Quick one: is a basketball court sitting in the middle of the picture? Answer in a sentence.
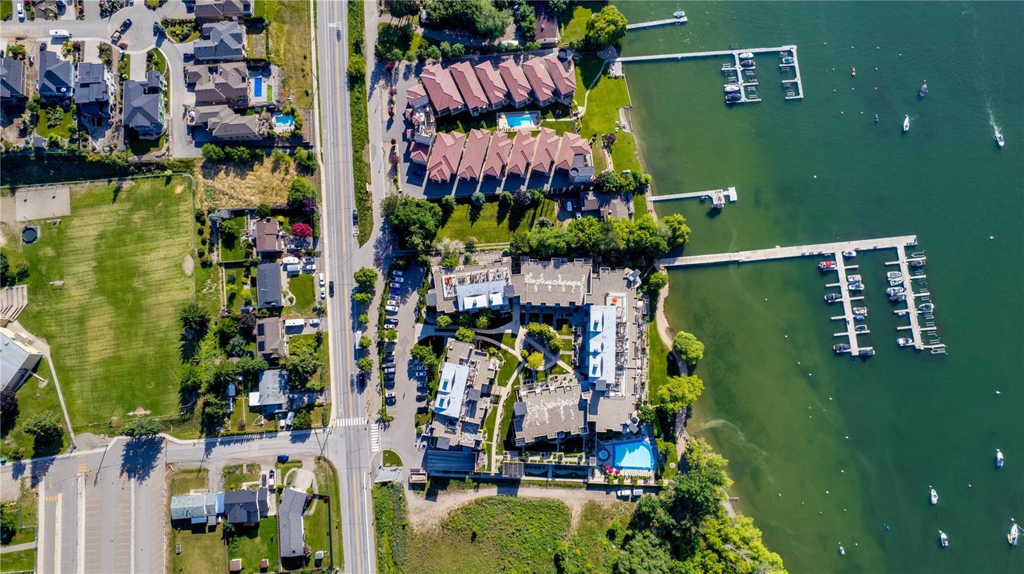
No, in the middle of the picture there is no basketball court.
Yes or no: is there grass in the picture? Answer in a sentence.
Yes, there's grass in this view.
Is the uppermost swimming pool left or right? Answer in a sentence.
The uppermost swimming pool appears in the left half of the scene.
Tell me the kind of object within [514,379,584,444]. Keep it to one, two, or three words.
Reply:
building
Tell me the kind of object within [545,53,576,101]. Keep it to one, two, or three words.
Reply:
house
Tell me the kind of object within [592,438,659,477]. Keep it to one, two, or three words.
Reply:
swimming pool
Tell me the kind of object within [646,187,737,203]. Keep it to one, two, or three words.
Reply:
pier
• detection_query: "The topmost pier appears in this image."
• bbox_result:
[626,16,688,29]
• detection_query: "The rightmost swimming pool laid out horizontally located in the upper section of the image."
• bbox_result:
[497,111,541,132]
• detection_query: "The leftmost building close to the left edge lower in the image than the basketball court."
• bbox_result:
[0,323,44,393]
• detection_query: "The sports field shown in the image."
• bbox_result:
[0,176,196,427]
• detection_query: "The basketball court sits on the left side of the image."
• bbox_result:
[15,187,70,221]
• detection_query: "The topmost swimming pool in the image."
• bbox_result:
[247,62,285,104]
